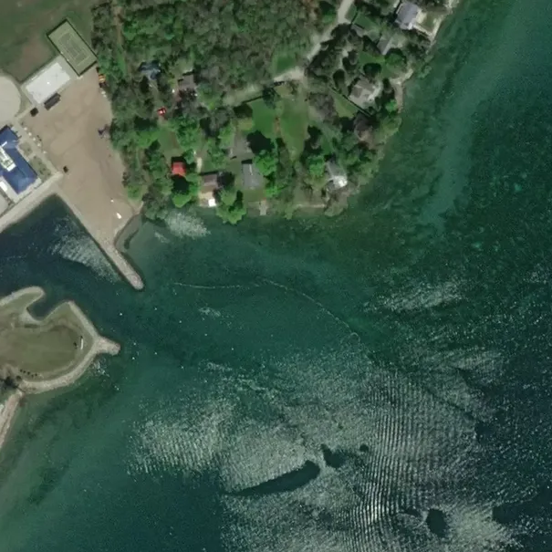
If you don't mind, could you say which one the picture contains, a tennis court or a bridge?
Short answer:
tennis court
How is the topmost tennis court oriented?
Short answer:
at an angle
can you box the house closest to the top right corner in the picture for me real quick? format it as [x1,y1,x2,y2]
[394,3,424,31]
